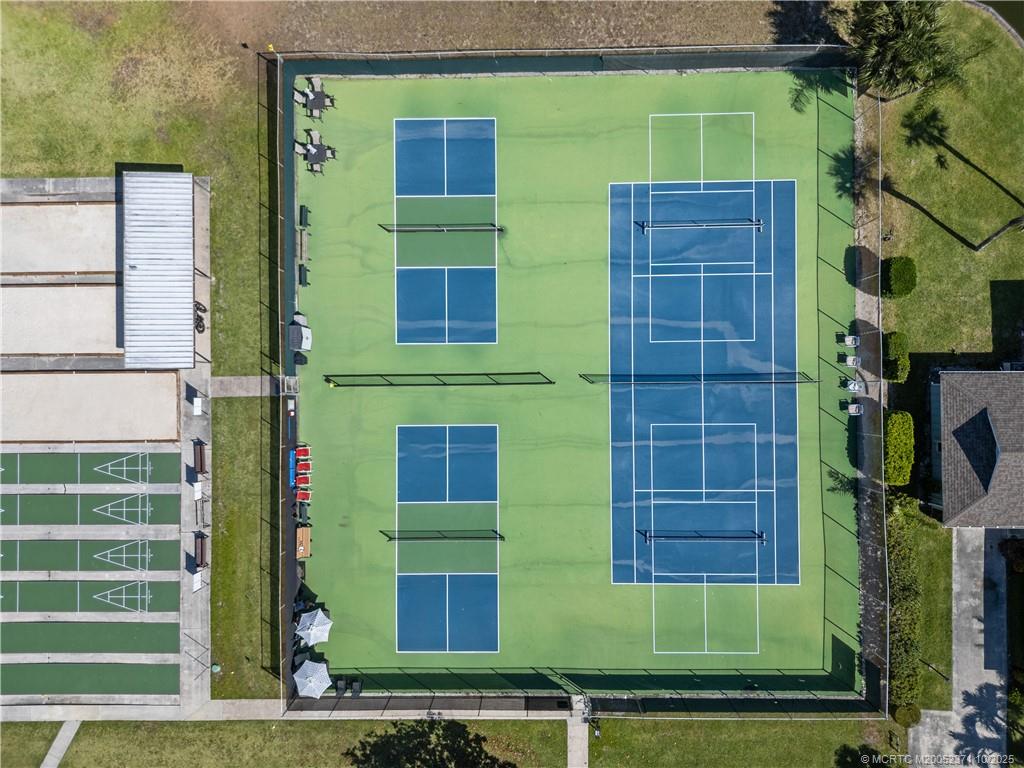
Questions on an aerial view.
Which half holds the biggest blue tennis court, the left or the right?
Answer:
right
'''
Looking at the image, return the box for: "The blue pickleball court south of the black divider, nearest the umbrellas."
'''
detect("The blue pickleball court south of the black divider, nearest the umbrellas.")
[396,424,499,654]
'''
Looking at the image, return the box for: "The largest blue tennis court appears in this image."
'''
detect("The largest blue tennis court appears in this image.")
[610,179,801,585]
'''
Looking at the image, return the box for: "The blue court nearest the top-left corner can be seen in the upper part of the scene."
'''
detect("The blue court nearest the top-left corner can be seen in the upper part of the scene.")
[394,117,498,345]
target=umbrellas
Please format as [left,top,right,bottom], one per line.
[293,656,334,697]
[295,605,336,646]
